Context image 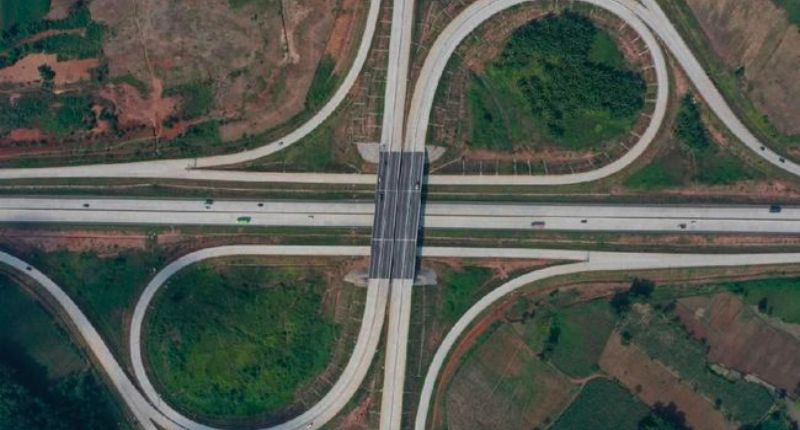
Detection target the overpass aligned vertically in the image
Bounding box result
[369,152,424,279]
